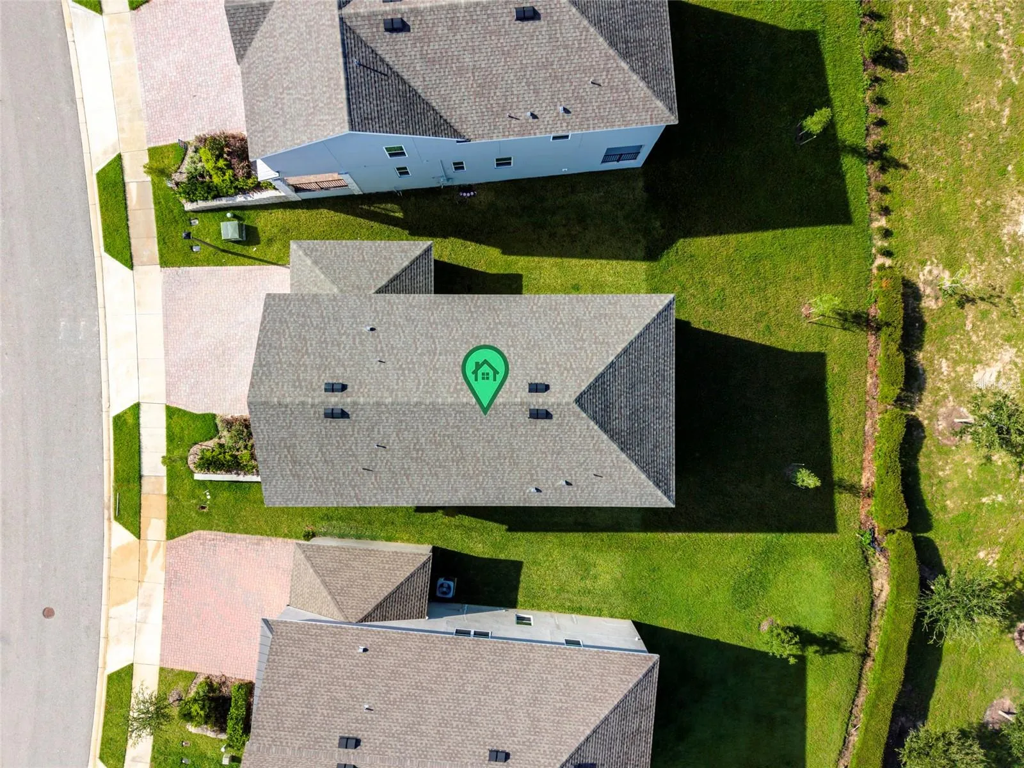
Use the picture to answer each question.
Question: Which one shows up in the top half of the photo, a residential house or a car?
residential house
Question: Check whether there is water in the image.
No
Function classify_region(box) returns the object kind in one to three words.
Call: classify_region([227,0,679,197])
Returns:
house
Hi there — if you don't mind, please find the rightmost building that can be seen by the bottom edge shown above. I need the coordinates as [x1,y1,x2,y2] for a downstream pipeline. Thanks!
[249,535,660,768]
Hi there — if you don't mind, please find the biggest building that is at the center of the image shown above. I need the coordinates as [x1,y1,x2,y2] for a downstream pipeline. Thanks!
[248,239,676,509]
